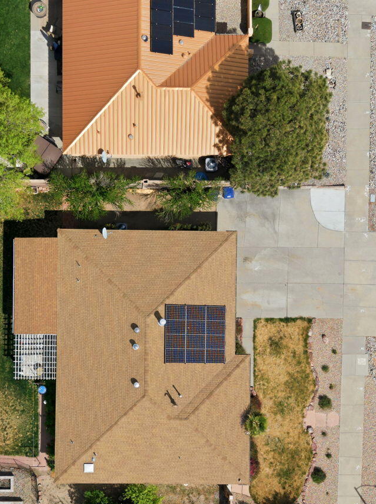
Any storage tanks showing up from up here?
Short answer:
No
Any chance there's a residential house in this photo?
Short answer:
Yes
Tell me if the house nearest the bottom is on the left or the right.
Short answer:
left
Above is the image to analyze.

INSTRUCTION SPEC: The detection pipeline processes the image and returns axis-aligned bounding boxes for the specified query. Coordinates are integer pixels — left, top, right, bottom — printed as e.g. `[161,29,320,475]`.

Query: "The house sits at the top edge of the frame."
[61,0,251,156]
